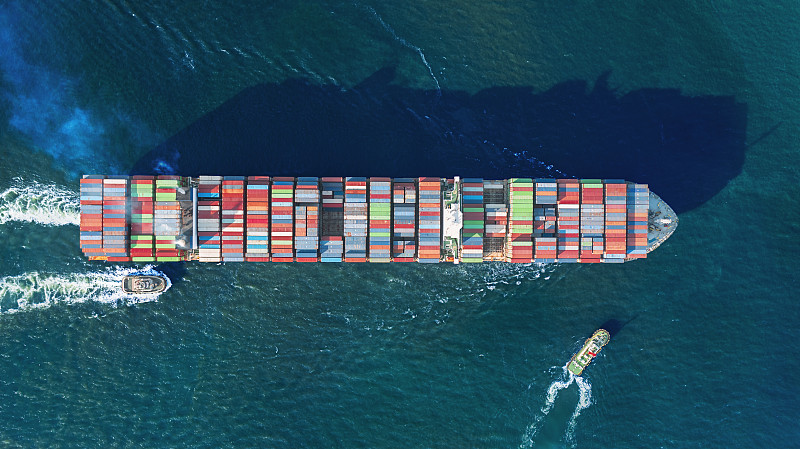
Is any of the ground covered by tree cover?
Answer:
No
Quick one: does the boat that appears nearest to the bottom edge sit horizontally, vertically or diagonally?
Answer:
diagonally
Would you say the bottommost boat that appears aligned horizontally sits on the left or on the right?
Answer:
left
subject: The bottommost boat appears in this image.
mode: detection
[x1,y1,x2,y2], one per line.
[567,328,609,378]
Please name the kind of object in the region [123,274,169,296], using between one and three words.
boat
